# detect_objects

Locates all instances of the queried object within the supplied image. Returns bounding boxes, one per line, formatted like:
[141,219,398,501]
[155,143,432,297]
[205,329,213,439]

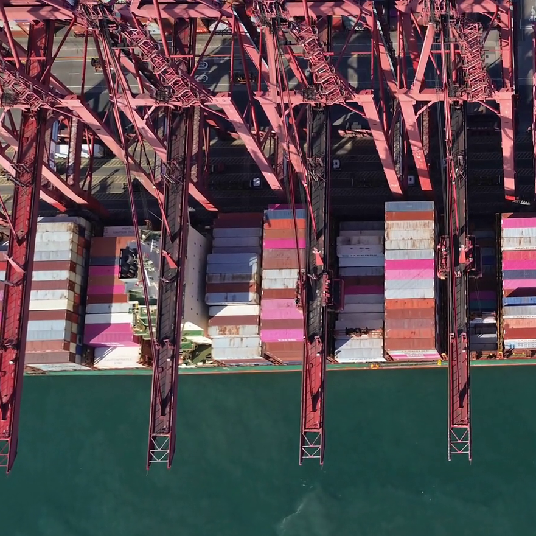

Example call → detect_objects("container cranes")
[0,114,96,222]
[95,0,309,468]
[0,0,201,470]
[398,0,530,463]
[257,0,412,465]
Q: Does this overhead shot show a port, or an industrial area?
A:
port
